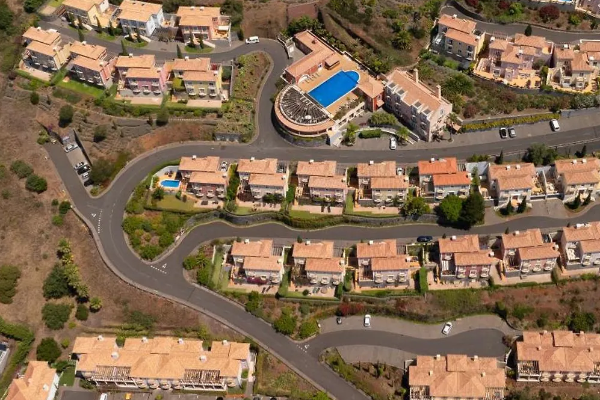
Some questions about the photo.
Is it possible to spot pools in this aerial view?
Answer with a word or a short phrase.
Yes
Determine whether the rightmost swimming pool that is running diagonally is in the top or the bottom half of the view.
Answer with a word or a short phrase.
top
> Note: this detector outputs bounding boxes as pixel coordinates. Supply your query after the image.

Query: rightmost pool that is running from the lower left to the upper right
[307,69,361,110]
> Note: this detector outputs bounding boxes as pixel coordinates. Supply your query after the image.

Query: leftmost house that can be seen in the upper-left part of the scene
[10,20,73,82]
